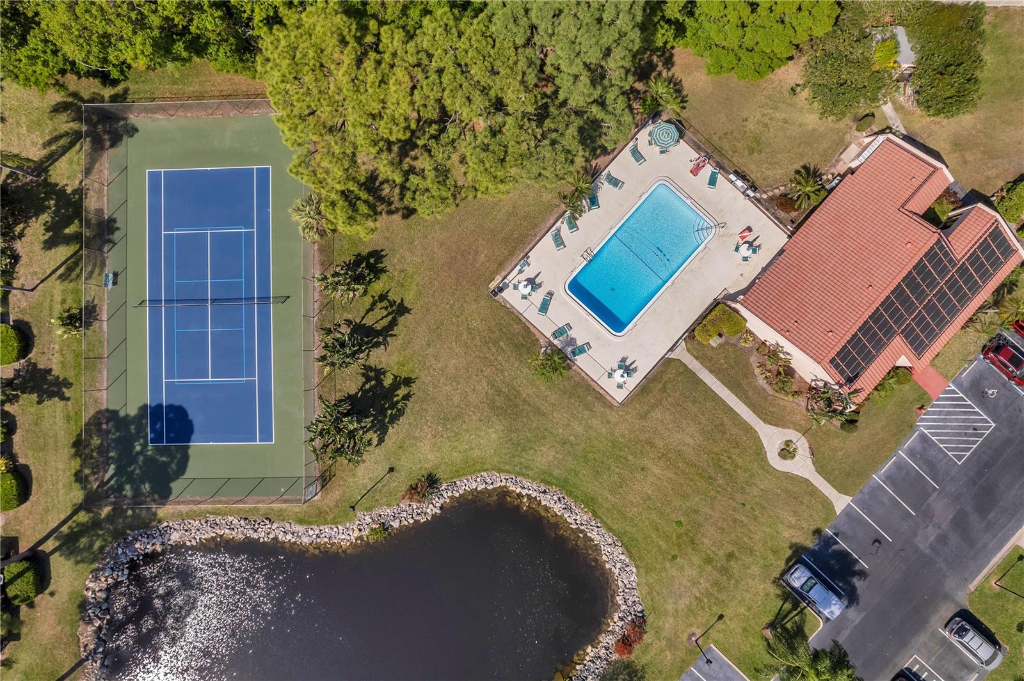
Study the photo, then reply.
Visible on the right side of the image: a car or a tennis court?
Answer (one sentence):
Visible on the right side of the image is a car.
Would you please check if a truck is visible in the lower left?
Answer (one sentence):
No, looking in the lower left, there is no truck.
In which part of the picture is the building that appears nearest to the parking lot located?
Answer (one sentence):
Look in the right portion of the view to spot the building that appears nearest to the parking lot.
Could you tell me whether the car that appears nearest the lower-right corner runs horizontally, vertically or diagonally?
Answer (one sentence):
What the image shows is the car that appears nearest the lower-right corner lying diagonally.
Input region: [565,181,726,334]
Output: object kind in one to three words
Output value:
swimming pool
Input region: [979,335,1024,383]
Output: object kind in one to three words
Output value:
car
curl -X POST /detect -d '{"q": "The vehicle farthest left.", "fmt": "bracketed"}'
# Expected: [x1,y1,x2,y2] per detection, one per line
[785,563,843,620]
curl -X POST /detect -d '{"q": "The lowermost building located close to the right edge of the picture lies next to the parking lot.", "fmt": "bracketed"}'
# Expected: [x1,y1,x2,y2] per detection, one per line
[735,129,1024,409]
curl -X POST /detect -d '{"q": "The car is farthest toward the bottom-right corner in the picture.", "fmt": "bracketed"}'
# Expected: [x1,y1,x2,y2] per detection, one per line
[943,612,997,663]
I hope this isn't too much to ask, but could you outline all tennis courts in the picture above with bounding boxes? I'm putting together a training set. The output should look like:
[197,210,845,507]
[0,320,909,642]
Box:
[107,114,314,500]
